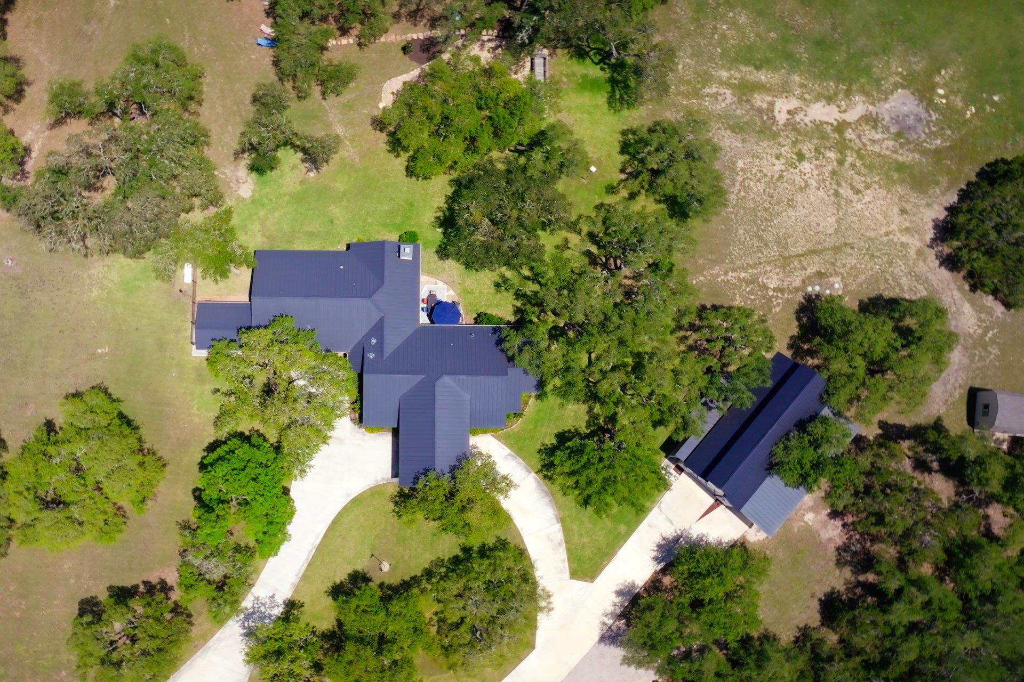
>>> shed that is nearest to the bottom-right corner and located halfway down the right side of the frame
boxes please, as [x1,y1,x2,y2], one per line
[975,390,1024,431]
